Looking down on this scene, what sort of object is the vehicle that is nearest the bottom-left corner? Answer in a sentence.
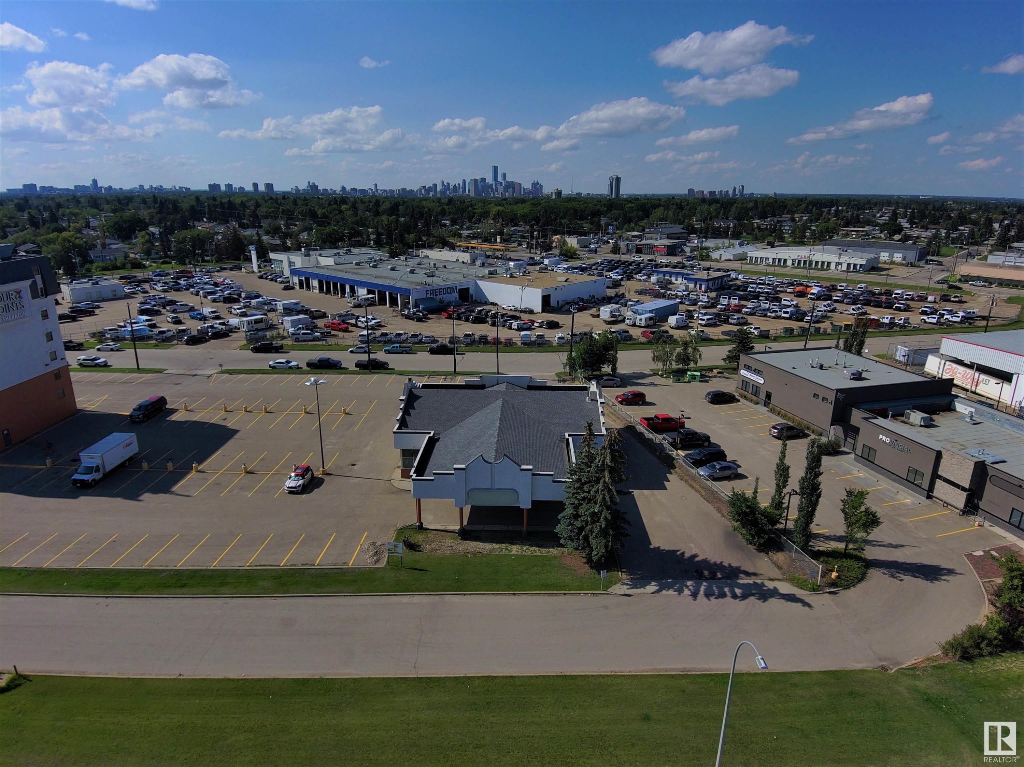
From above, the vehicle that is nearest the bottom-left corner can be identified as a truck.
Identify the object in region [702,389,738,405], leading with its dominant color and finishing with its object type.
black car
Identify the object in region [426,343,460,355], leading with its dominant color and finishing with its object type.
black vehicle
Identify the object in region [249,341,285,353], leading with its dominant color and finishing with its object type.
black vehicle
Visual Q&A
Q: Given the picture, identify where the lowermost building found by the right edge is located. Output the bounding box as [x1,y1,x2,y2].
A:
[829,399,1024,539]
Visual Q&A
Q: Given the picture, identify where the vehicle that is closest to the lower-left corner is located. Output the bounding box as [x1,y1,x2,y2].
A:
[68,431,145,491]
